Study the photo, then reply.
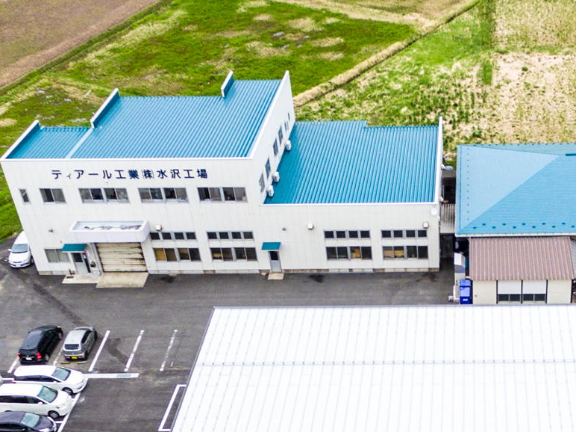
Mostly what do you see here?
buildings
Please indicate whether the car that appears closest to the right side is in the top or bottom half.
bottom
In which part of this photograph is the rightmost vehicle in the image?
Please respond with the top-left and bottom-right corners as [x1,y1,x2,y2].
[62,322,99,357]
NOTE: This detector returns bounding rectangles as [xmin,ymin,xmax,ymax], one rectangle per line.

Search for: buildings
[456,144,576,263]
[2,72,444,273]
[166,304,576,432]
